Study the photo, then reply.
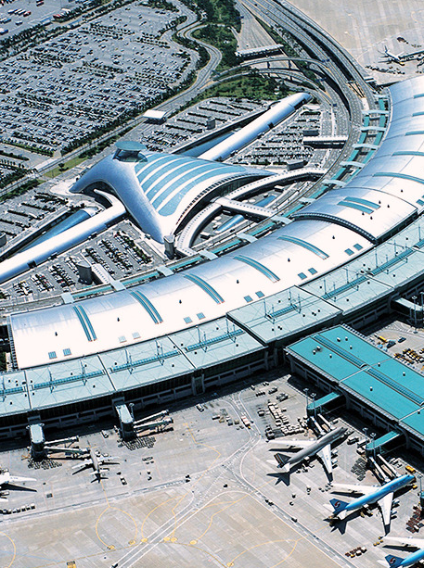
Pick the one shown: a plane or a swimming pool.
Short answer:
plane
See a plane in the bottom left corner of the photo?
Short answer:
Yes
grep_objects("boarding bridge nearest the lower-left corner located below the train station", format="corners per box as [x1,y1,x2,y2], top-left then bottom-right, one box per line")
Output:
[28,417,91,459]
